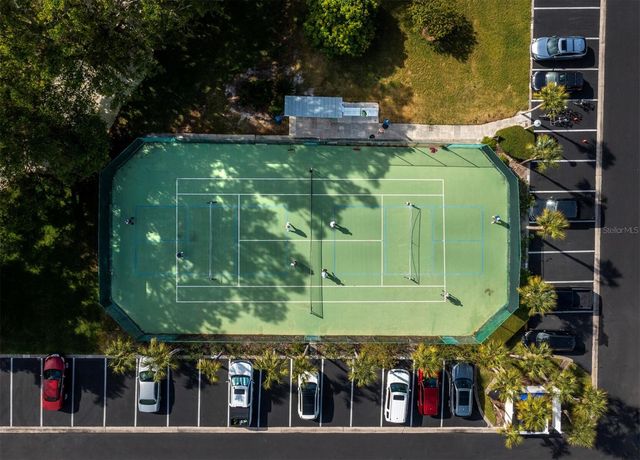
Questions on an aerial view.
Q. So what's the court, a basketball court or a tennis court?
tennis court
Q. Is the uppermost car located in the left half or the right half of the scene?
right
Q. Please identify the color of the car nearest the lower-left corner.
red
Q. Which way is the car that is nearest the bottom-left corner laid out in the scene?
up and down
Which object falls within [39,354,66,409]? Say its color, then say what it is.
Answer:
red car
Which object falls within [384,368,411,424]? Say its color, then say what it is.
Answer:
white car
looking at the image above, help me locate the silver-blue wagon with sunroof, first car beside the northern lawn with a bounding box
[529,34,586,61]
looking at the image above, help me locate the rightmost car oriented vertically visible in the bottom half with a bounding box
[450,362,476,418]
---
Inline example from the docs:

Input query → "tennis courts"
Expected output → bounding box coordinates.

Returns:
[112,146,508,335]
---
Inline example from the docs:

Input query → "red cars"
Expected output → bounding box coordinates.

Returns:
[39,354,66,409]
[417,366,441,416]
